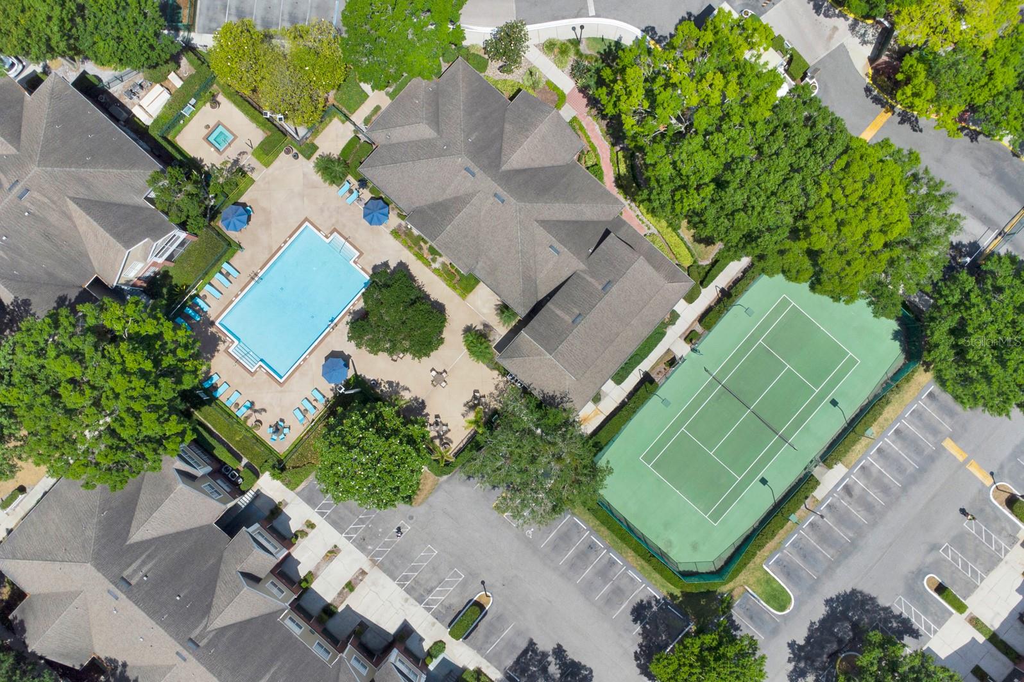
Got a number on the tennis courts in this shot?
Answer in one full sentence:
Only 1 tennis court is visible.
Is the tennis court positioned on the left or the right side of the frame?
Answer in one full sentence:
You can find the tennis court on the right side of the picture.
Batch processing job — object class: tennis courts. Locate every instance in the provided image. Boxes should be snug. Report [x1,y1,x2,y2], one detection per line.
[597,241,907,574]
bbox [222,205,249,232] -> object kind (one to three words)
umbrella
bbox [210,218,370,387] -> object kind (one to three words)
swimming pool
